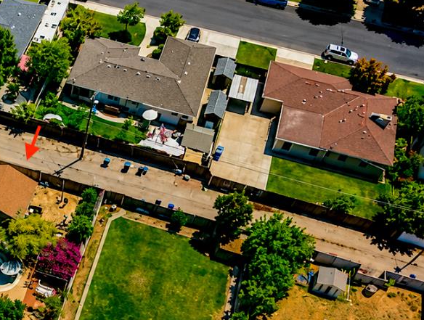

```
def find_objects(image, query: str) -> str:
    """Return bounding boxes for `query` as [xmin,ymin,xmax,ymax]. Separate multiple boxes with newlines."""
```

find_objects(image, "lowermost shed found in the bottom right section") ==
[310,266,347,302]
